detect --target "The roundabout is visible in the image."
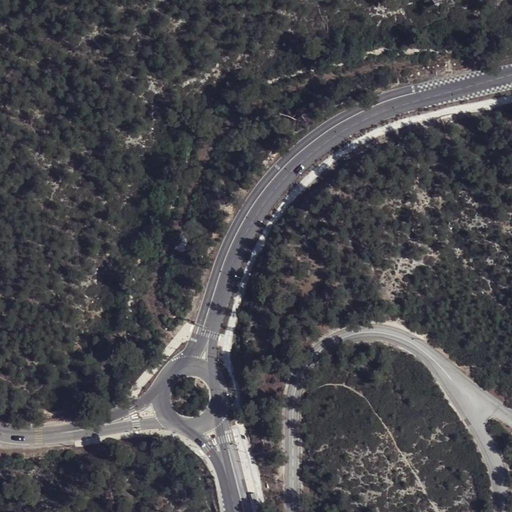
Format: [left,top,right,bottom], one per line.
[104,340,238,474]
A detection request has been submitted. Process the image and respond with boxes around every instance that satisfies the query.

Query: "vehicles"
[11,435,24,442]
[194,437,206,448]
[294,164,305,174]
